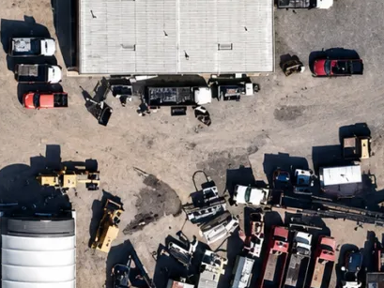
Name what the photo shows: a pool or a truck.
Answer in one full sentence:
This aerial view contains a truck.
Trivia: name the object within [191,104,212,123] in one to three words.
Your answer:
vehicle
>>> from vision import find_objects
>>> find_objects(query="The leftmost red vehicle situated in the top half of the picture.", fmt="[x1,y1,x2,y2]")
[22,89,66,110]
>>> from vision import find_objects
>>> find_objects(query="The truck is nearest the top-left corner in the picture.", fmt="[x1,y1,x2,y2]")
[9,35,55,57]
